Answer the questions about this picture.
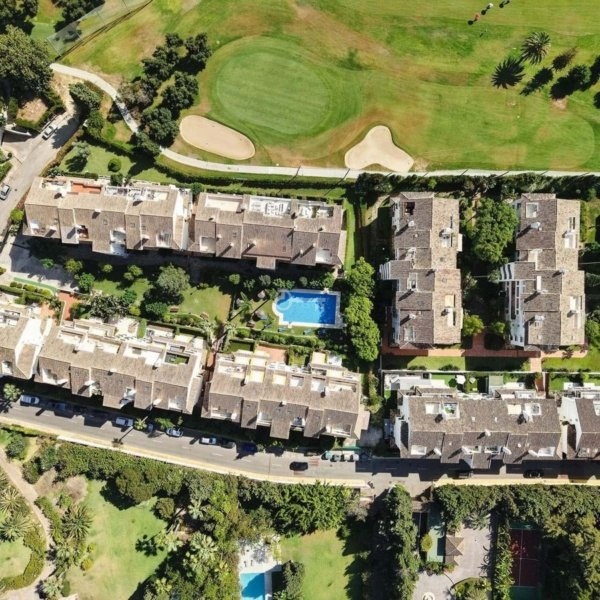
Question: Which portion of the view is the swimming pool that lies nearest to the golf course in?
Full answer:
The swimming pool that lies nearest to the golf course sits in the center section of the image.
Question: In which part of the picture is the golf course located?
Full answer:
The golf course is located in the top region of the scene.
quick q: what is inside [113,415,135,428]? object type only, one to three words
vehicle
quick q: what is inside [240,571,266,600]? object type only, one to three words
swimming pool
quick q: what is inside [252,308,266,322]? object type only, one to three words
umbrella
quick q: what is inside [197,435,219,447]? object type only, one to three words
vehicle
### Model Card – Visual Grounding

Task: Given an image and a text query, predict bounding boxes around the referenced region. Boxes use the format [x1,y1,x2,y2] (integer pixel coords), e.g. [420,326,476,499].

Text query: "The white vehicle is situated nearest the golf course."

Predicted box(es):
[40,120,59,139]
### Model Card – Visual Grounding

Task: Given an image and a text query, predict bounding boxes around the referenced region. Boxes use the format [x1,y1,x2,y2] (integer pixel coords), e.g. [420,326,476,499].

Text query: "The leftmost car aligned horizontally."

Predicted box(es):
[18,394,40,406]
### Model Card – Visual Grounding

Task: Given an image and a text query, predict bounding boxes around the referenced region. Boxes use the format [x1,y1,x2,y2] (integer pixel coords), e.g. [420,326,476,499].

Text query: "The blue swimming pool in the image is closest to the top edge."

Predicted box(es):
[274,291,338,329]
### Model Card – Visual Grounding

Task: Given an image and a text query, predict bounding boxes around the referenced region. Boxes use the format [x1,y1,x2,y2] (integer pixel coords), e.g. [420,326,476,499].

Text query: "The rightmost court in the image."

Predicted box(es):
[506,520,547,600]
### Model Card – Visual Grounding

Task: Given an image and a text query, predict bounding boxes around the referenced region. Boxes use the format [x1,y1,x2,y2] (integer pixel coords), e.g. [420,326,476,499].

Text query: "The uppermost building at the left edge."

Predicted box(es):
[23,177,194,259]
